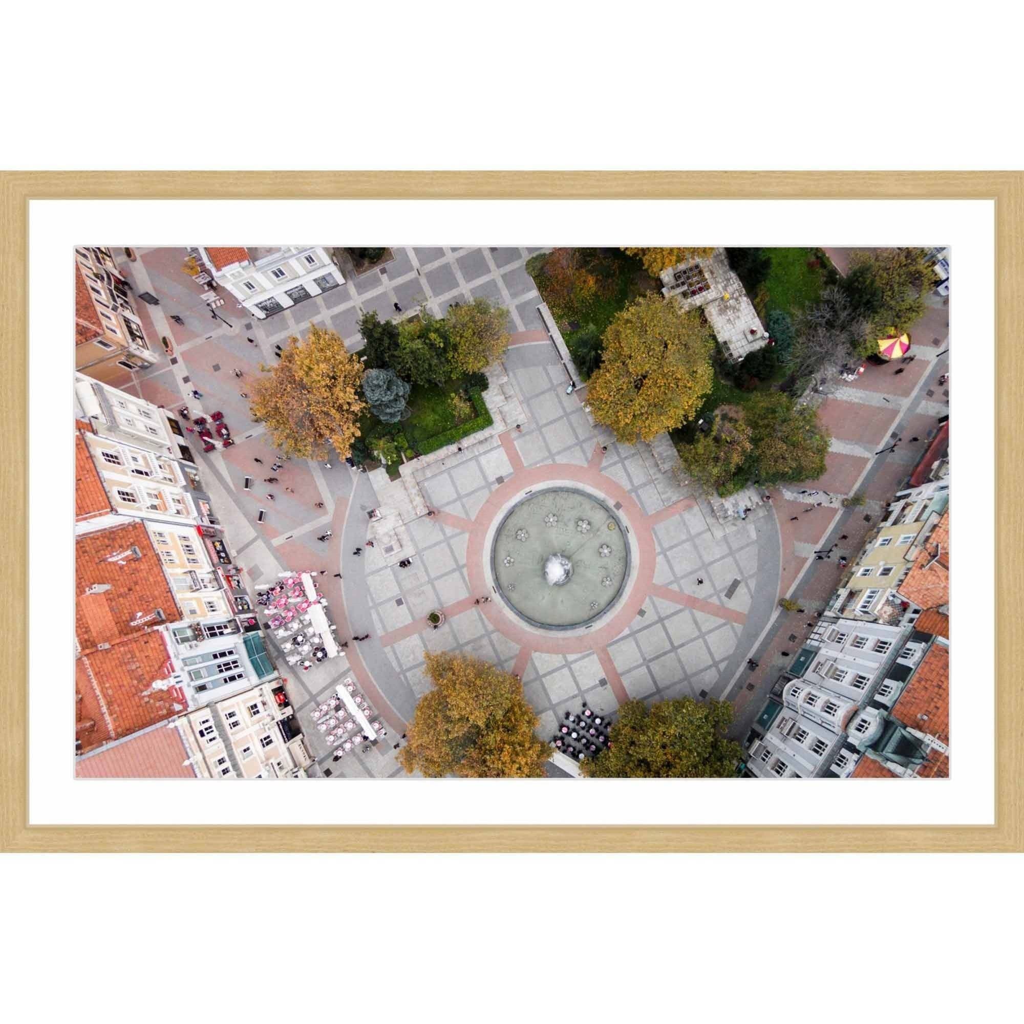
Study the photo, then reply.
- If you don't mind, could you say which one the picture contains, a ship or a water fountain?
water fountain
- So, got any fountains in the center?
Yes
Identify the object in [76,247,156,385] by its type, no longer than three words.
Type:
house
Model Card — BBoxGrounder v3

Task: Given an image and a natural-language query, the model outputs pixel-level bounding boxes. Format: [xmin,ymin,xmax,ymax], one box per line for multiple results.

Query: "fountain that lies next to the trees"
[482,480,640,638]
